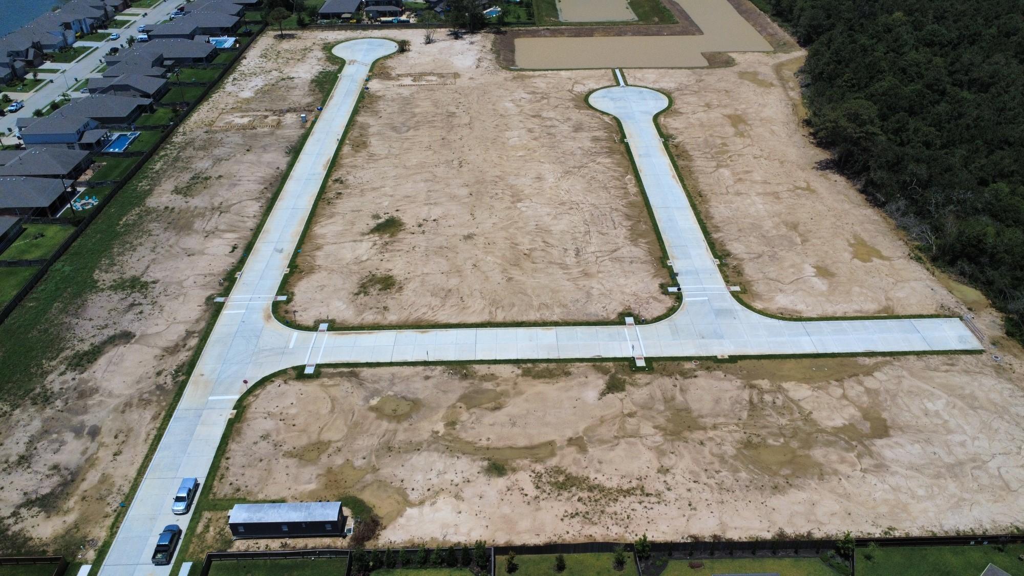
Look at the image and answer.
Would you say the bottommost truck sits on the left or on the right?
left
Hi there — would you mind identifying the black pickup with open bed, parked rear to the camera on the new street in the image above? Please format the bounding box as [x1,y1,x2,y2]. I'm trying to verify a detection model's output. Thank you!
[148,521,183,567]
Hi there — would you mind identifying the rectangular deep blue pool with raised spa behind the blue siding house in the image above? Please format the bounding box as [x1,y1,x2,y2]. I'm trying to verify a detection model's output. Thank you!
[104,131,140,149]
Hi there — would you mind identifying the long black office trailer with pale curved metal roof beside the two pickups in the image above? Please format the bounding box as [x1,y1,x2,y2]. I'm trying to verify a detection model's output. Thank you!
[227,497,347,537]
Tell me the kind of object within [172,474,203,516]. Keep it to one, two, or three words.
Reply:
truck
